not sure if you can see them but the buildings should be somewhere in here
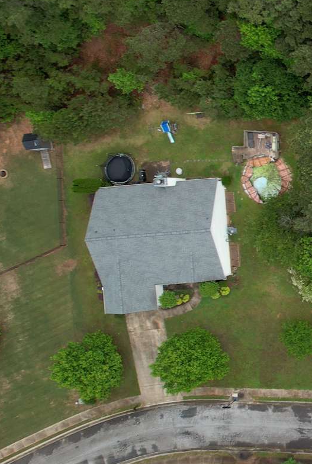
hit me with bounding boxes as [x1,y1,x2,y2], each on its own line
[89,176,231,313]
[16,137,49,168]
